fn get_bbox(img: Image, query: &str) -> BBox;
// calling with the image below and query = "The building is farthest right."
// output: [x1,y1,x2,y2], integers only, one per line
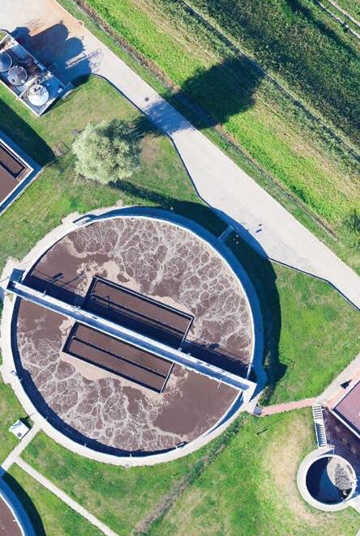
[330,376,360,434]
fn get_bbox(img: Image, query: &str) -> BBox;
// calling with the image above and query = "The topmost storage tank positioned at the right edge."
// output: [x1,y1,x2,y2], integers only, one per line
[298,447,360,510]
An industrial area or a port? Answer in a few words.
industrial area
